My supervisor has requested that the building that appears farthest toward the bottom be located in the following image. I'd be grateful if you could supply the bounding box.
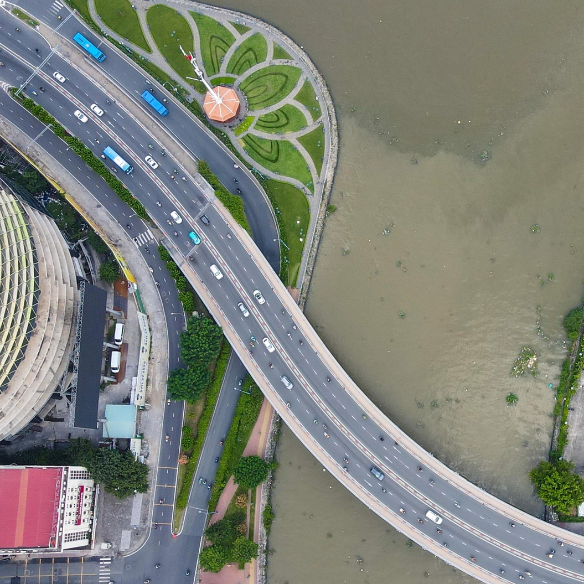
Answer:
[0,455,97,553]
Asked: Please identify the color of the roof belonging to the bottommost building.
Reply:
red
